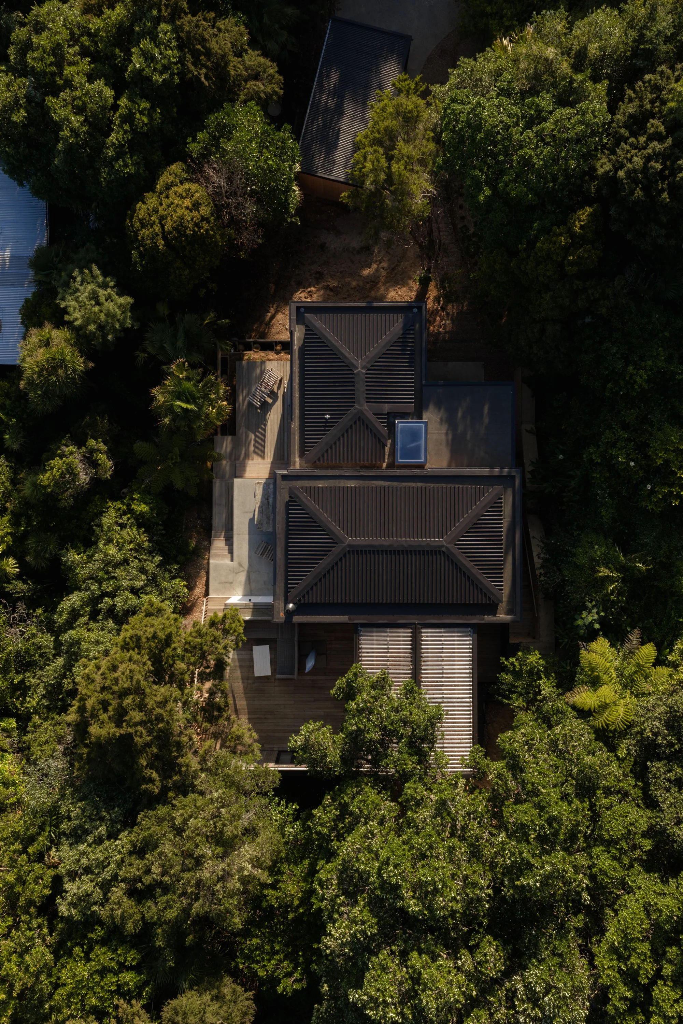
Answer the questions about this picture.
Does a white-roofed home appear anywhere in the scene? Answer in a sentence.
No, no white-roofed home can be seen from above.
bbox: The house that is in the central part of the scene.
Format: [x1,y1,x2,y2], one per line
[273,301,523,623]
